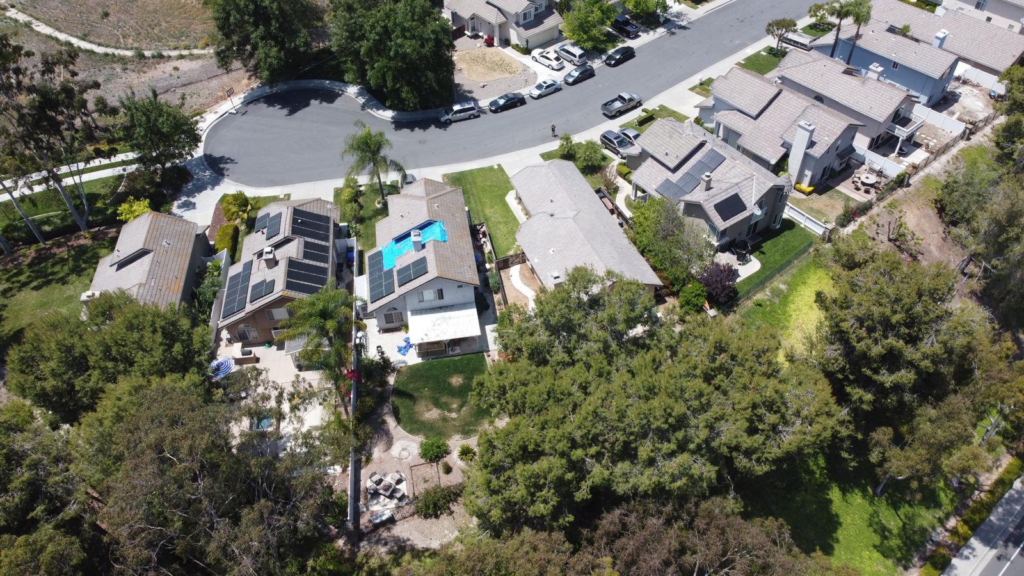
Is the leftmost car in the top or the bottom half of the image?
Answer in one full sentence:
It is in the top half that the leftmost car appears.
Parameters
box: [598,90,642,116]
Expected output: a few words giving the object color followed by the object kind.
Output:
gray truck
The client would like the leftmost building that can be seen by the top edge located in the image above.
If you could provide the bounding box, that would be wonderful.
[444,0,561,55]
